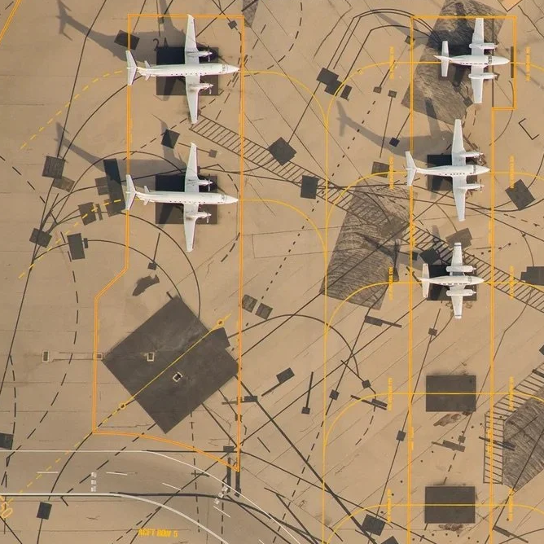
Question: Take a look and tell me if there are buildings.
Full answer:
No, no building is visible in the scene.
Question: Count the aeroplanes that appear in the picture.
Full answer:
My tally gives 5 aeroplanes in this view.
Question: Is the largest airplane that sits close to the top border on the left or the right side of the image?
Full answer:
The largest airplane that sits close to the top border is on the left side of the image.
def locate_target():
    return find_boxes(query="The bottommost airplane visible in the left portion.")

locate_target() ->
[120,143,237,249]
